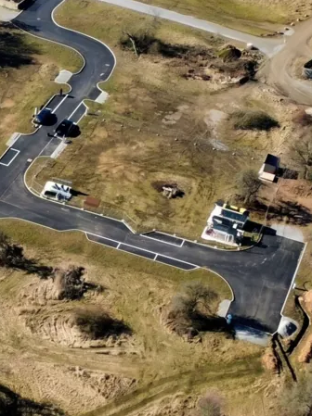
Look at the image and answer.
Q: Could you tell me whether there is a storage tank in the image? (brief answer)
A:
No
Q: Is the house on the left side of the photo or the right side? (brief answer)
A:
right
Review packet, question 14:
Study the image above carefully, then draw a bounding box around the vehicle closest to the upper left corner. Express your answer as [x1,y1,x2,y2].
[35,108,53,121]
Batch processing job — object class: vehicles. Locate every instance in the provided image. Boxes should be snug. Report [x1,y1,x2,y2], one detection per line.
[35,108,53,121]
[55,122,72,136]
[42,181,71,198]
